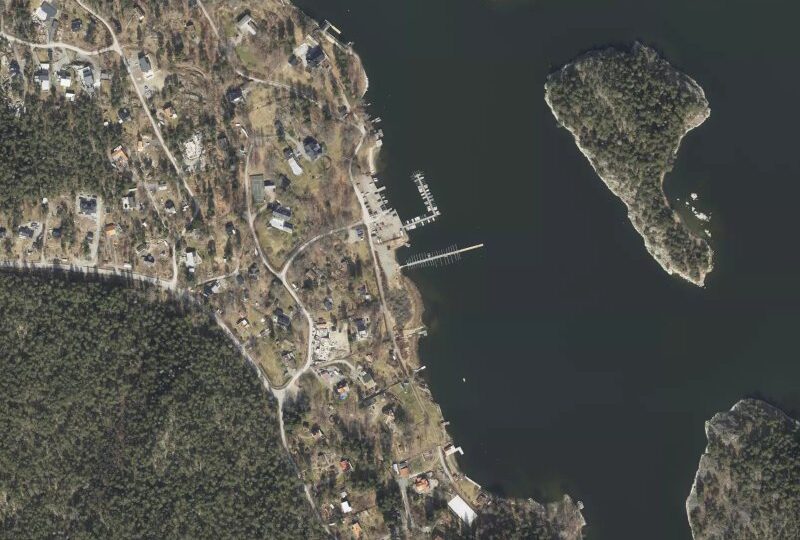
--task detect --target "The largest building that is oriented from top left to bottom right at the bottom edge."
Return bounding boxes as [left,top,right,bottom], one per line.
[448,495,478,525]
